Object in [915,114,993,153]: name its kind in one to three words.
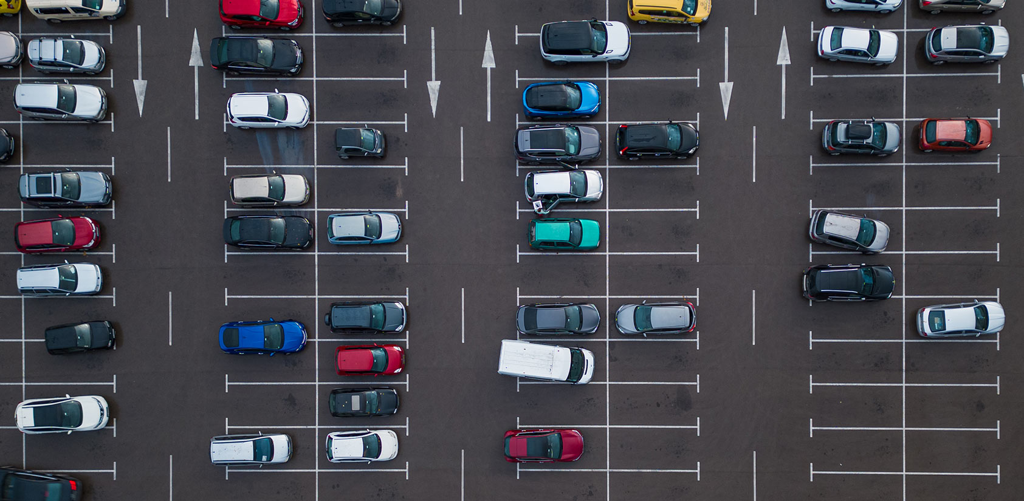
car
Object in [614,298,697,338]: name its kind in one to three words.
car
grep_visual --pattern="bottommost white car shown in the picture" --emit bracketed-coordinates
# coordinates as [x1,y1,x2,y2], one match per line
[325,426,399,466]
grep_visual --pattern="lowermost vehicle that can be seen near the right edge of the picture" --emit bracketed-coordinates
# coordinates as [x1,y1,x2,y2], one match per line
[913,298,1007,340]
